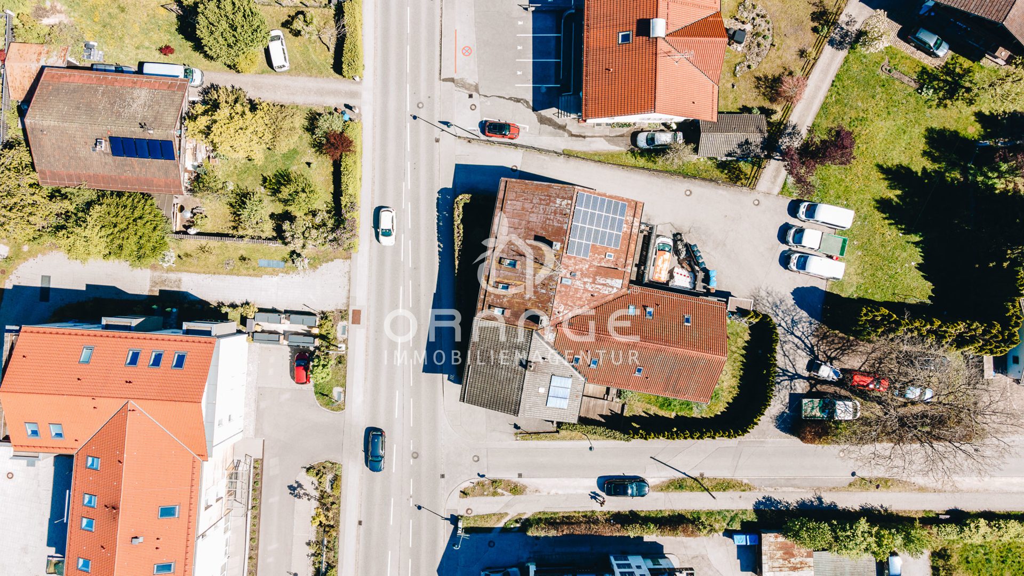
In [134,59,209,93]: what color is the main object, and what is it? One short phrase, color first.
white van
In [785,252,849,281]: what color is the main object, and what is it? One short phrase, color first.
white van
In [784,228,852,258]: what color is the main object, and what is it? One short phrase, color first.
white truck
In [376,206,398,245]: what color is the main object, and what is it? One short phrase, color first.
white car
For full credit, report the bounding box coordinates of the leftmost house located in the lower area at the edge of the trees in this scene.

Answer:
[0,317,248,576]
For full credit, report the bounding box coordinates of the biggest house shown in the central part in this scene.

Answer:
[459,178,728,430]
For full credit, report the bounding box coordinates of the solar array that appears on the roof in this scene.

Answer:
[567,192,628,258]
